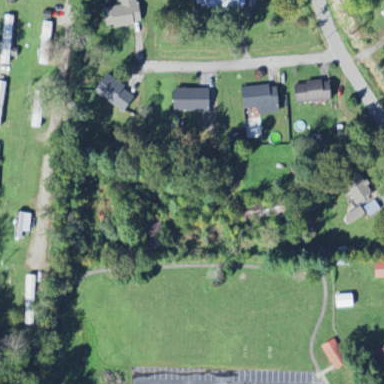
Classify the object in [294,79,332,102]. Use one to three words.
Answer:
house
